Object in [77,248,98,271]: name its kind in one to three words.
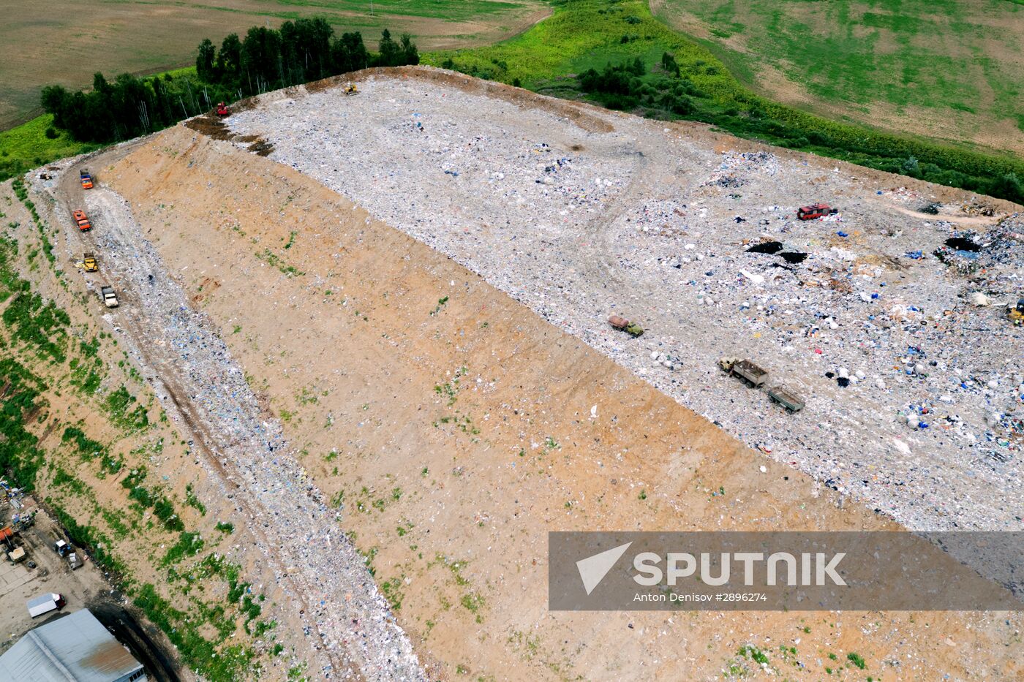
truck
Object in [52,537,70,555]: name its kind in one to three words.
work vehicle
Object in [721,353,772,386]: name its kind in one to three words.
truck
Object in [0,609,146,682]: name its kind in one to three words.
shed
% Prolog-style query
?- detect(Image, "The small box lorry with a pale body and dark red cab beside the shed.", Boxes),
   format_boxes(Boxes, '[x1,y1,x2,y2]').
[23,593,65,616]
